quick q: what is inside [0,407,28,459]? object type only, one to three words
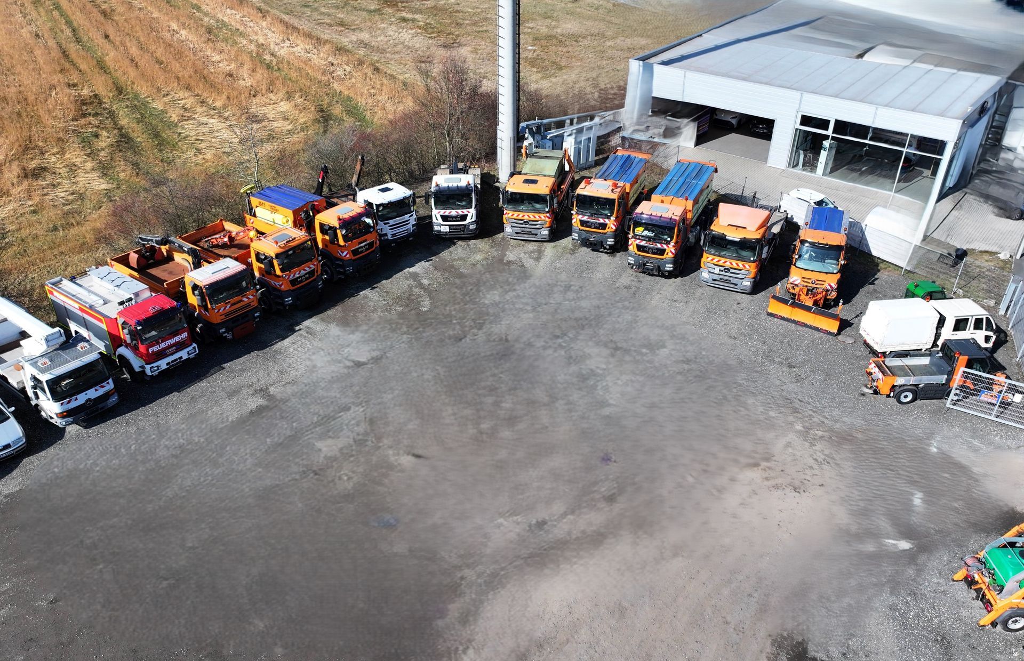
car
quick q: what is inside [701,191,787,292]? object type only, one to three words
truck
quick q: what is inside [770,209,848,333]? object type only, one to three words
truck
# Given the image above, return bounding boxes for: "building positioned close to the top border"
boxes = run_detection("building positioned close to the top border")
[624,0,1024,207]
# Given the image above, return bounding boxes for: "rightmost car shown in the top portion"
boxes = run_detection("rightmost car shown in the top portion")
[951,180,1024,215]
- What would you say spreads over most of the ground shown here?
paved ground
